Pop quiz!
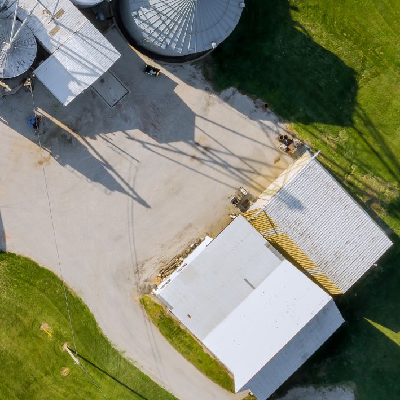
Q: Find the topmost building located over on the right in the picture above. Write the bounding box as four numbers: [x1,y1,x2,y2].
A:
[240,151,393,293]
